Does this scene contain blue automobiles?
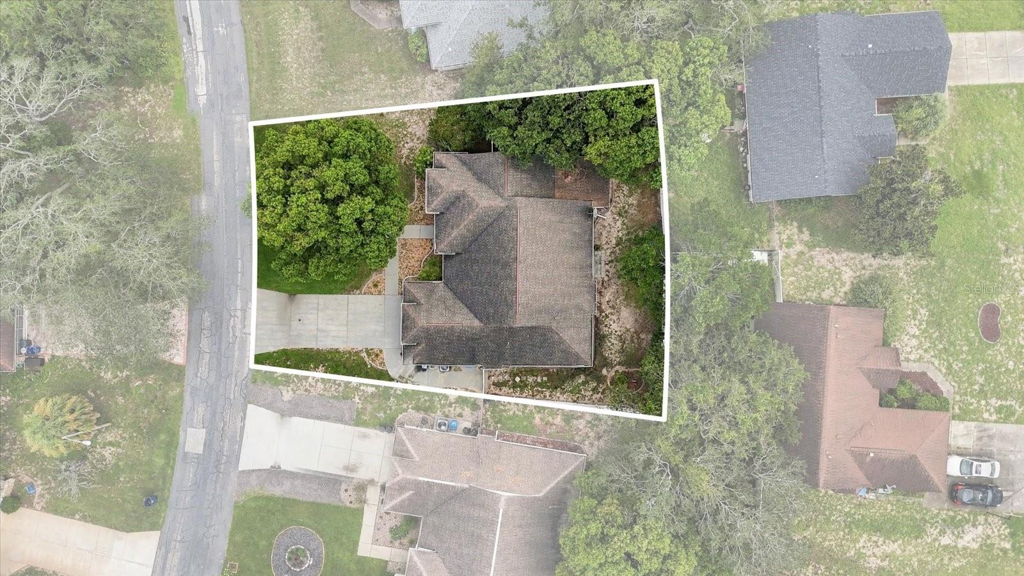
No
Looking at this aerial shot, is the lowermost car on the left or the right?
right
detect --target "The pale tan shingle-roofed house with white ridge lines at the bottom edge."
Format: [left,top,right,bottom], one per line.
[384,425,587,576]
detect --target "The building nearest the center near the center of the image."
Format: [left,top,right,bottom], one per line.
[400,150,611,370]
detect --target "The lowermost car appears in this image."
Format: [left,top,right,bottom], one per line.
[953,484,1008,511]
